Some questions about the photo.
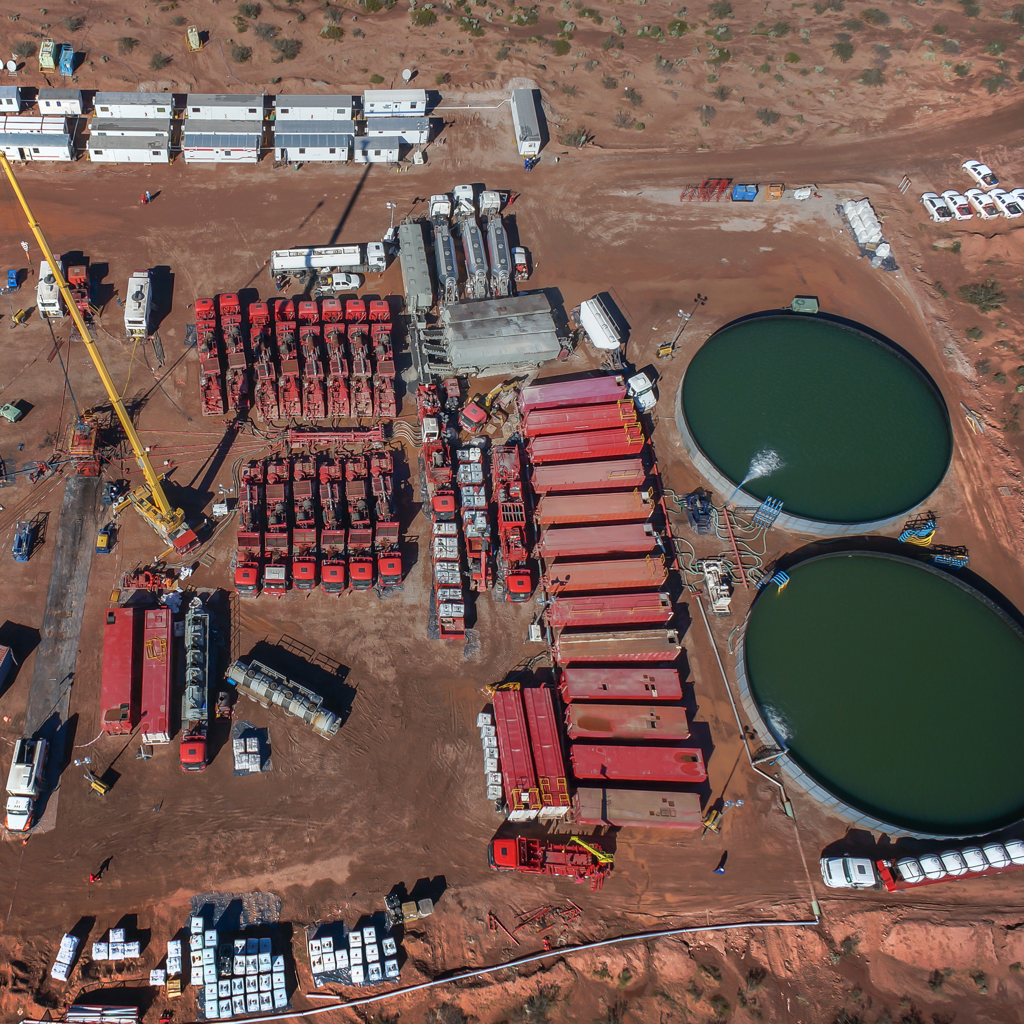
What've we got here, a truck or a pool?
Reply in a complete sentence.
I can see a truck in this picture.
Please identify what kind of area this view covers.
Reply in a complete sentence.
This looks like an industrial area.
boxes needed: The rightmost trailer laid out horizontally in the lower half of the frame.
[879,841,1024,890]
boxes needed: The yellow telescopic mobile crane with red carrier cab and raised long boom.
[0,145,210,566]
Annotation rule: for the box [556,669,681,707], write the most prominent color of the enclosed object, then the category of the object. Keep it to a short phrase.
red storage tank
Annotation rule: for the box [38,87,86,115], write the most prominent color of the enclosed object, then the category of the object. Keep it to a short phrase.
white trailer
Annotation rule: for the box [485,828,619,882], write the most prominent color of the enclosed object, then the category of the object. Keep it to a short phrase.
red truck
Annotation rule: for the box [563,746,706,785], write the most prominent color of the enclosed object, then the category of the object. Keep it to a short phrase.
red storage tank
